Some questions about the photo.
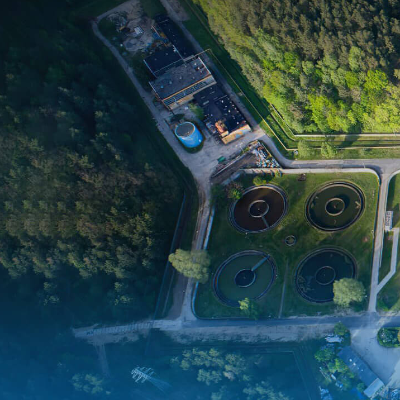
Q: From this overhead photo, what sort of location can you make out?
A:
industrial area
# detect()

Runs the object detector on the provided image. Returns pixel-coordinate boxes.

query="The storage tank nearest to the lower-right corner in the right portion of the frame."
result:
[294,247,356,305]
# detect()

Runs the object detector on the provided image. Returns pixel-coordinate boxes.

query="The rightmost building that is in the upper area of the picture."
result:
[194,84,252,143]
